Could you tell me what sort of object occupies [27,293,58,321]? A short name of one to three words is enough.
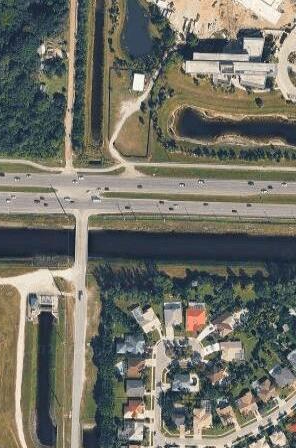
dam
